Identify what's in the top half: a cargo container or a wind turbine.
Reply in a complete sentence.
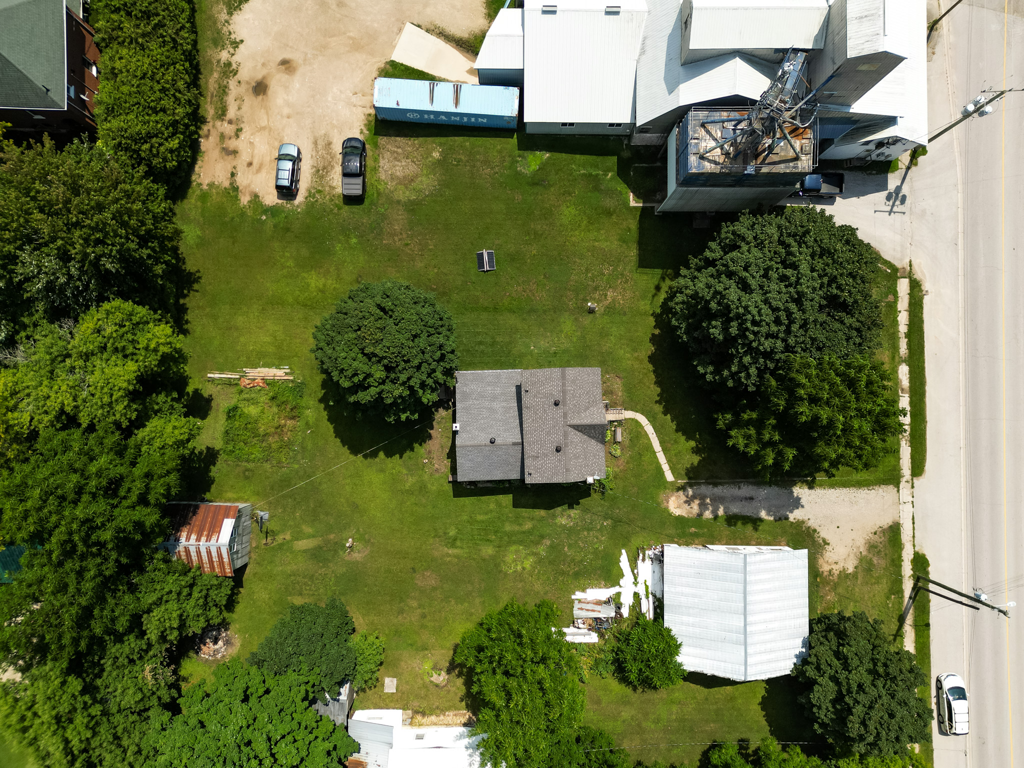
What appears in the top half is a cargo container.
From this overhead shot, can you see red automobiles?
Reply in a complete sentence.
No, there is no red automobile in the image.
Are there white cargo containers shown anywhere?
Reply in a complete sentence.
Yes, I can see a white cargo container in this picture.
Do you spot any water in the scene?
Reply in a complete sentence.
No, no water is visible.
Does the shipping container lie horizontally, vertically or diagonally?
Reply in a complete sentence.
In this picture, the shipping container is oriented horizontally.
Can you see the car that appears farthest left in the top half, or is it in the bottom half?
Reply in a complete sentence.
The car that appears farthest left sits in the top half of the picture.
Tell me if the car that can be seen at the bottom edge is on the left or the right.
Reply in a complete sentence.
It is on the right.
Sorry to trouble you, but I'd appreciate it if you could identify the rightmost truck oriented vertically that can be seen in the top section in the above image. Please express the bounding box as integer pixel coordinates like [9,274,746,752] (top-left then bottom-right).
[340,136,368,199]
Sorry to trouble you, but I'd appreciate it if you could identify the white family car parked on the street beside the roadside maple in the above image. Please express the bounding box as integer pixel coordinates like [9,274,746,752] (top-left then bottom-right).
[940,678,973,737]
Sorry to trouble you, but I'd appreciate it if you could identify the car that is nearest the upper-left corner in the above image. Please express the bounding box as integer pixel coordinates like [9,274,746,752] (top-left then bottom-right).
[273,142,300,194]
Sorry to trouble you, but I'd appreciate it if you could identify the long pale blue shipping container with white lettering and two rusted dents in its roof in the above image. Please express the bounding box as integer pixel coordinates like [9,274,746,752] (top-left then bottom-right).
[373,77,520,128]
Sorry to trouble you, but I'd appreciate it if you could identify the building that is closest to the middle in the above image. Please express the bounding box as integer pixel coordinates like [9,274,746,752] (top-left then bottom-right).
[436,368,627,486]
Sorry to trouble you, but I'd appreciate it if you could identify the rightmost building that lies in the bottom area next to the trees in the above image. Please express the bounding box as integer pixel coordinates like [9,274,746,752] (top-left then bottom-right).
[659,540,805,685]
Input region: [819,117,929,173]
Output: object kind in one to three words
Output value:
building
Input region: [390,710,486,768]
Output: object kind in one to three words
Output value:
house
